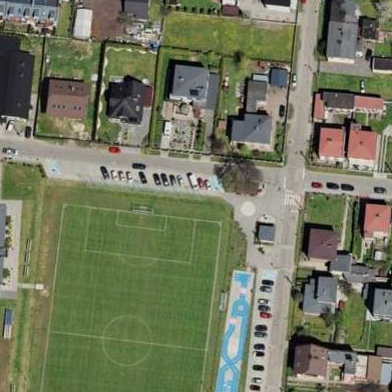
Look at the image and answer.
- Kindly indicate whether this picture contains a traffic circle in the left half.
No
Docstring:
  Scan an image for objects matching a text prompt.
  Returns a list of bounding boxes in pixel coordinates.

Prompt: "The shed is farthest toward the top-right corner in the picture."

[359,19,377,40]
